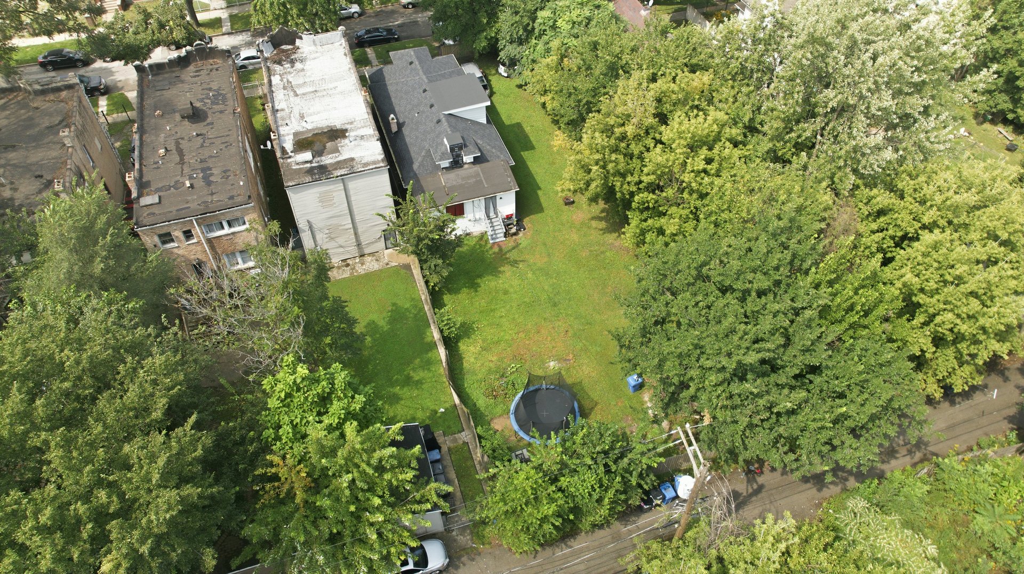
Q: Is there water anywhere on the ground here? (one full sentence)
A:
No, there's no water in this view.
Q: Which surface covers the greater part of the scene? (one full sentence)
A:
For the most part, this view shows trees.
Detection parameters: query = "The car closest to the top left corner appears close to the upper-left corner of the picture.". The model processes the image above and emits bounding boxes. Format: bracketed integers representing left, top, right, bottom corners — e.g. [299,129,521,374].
[32,47,88,71]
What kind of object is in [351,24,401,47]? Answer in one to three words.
car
